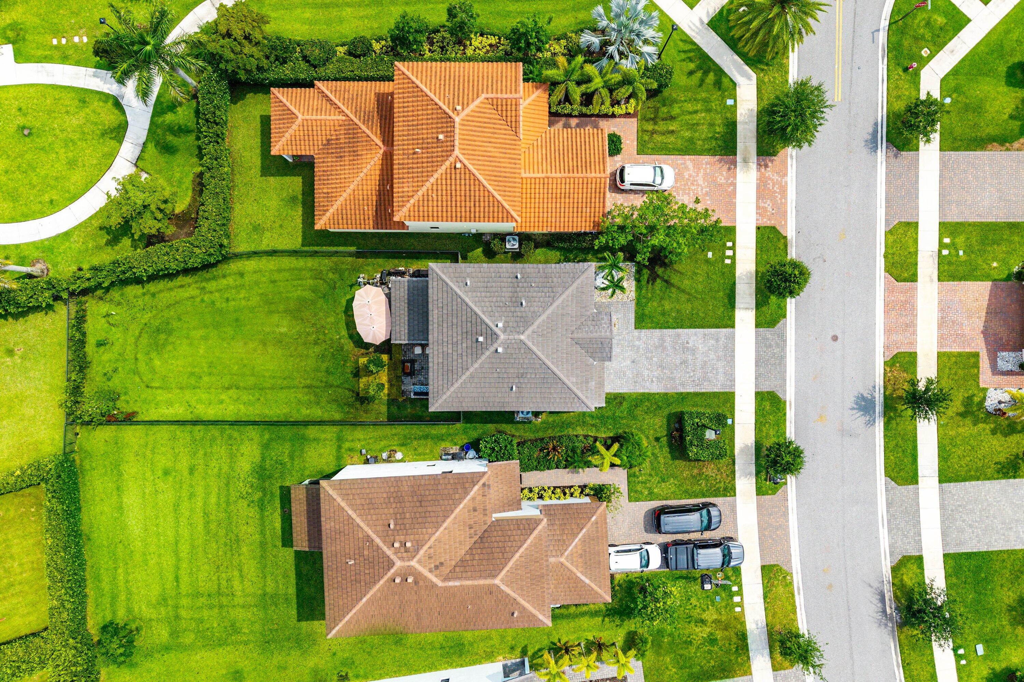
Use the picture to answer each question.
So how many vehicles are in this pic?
4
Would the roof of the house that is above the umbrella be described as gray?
No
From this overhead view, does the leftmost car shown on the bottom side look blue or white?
white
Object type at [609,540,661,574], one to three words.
car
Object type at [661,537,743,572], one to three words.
truck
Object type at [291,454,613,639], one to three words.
house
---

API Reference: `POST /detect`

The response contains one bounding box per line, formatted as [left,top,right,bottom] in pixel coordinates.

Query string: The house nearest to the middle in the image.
[391,262,615,412]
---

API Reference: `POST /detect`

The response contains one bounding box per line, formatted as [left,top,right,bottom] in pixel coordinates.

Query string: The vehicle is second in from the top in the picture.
[651,502,721,536]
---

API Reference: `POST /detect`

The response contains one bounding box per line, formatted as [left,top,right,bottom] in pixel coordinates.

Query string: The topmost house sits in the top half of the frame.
[269,59,613,233]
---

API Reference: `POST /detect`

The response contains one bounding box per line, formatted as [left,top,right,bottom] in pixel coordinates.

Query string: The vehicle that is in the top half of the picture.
[615,159,675,191]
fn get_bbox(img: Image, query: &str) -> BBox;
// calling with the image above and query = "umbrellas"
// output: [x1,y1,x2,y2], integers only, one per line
[353,285,391,344]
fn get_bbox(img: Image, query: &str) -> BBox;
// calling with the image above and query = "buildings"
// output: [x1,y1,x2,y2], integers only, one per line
[377,663,504,682]
[391,262,615,412]
[269,59,613,233]
[291,454,613,639]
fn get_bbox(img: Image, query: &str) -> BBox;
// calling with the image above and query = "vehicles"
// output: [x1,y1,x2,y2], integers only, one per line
[609,540,661,574]
[615,159,675,191]
[651,502,721,536]
[661,537,743,572]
